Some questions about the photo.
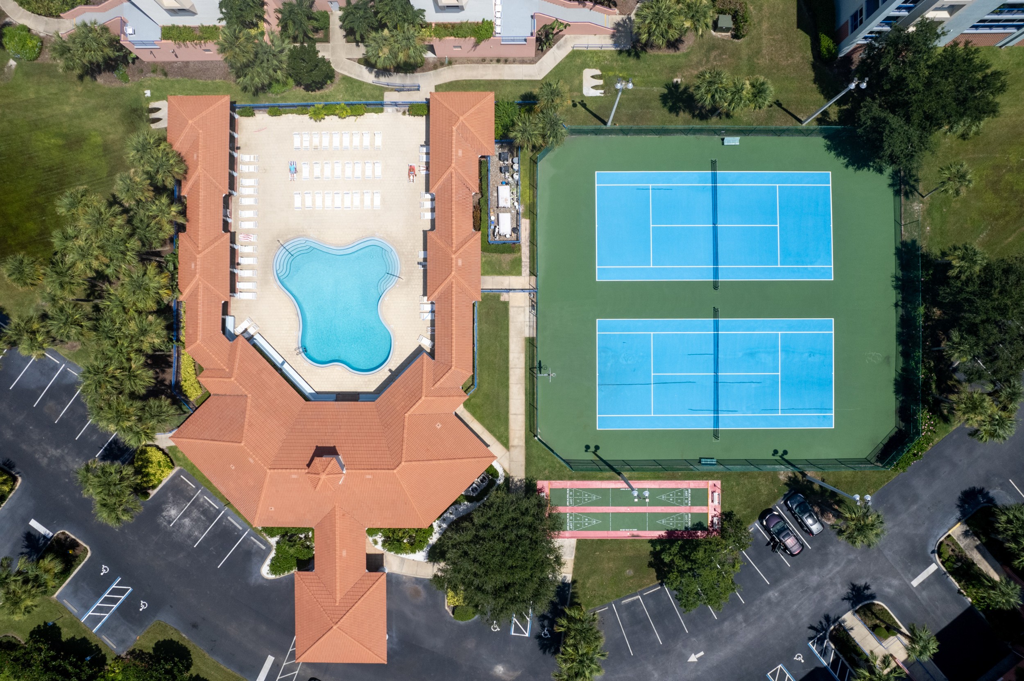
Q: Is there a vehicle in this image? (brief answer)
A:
Yes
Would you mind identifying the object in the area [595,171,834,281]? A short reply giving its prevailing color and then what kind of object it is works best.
blue tennis court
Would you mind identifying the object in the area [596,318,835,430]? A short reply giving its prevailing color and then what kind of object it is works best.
blue tennis court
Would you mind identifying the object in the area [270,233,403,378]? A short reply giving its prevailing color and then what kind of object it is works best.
blue swimming pool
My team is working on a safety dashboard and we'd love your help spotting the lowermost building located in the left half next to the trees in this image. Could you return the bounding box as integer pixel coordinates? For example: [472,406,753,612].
[166,91,497,665]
